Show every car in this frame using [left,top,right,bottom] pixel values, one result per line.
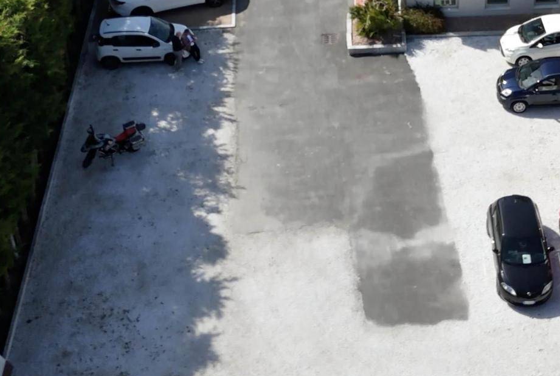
[89,13,190,70]
[497,56,560,113]
[113,0,224,15]
[484,195,554,307]
[497,11,560,66]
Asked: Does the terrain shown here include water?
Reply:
No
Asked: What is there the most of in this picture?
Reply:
paved ground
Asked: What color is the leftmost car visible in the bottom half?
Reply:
black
